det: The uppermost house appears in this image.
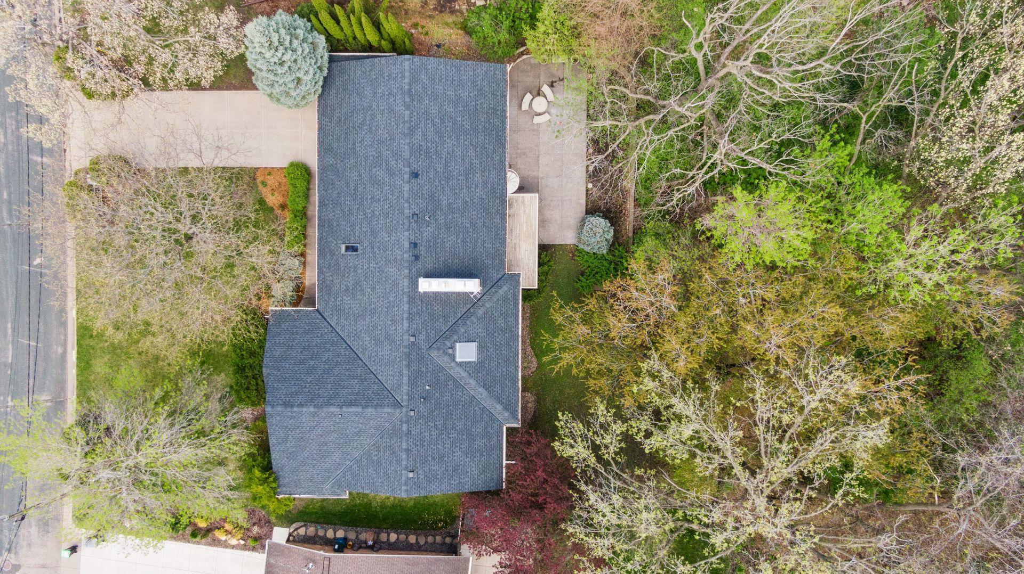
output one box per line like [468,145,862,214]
[264,51,523,500]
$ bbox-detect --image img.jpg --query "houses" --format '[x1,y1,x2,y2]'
[264,51,523,500]
[260,537,474,574]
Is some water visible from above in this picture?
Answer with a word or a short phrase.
No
